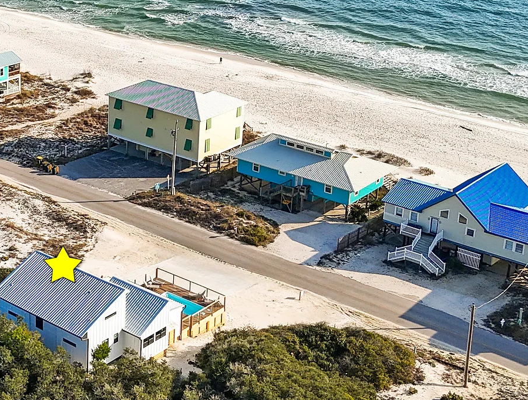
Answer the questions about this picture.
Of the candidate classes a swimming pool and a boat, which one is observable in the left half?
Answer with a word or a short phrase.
swimming pool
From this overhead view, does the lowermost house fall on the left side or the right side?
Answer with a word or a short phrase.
left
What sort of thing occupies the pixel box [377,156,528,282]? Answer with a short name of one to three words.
house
